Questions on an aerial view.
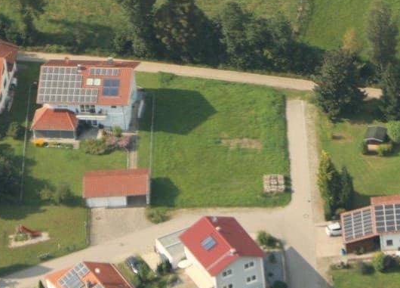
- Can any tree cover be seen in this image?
Yes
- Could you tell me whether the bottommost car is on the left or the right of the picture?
left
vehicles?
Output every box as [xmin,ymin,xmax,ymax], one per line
[122,255,146,275]
[321,222,344,237]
